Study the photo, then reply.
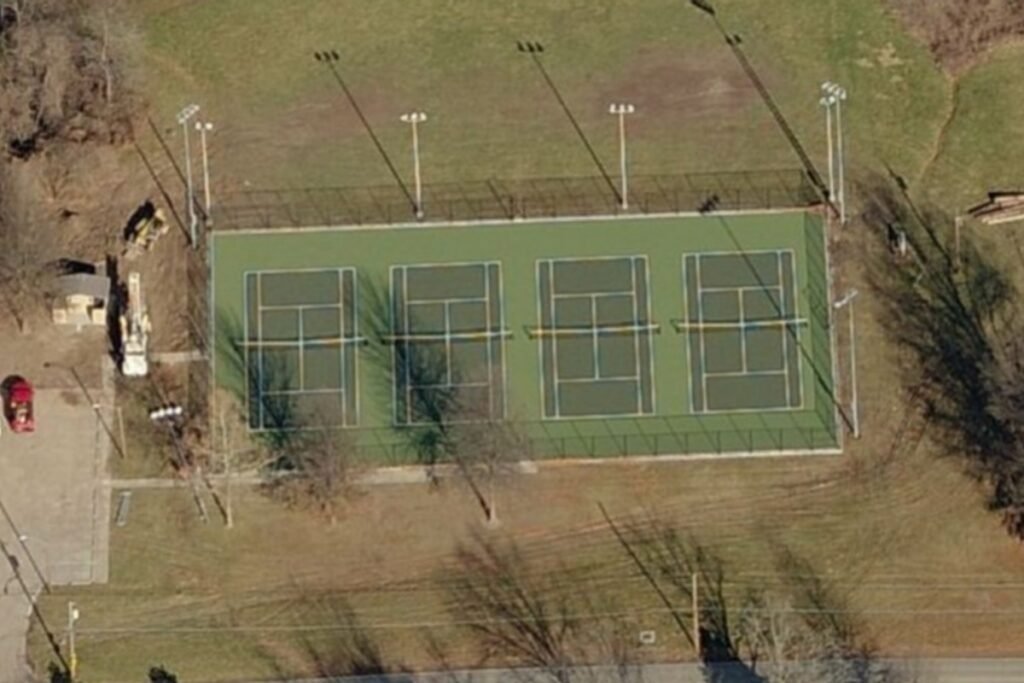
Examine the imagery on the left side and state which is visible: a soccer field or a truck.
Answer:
truck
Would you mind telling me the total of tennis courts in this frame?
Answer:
4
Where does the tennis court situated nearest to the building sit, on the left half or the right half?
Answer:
left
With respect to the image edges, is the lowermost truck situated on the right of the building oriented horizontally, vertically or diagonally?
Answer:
vertically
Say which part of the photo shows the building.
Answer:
left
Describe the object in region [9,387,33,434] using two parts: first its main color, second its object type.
red truck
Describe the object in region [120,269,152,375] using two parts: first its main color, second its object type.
white truck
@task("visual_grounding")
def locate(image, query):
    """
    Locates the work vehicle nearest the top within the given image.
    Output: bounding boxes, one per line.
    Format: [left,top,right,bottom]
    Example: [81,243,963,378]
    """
[130,212,171,252]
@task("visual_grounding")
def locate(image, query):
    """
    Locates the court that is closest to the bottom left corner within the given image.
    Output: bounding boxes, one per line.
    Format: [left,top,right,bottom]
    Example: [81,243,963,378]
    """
[236,268,366,431]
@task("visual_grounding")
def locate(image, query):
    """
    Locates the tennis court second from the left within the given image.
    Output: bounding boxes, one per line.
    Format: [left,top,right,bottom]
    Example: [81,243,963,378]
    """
[383,262,513,425]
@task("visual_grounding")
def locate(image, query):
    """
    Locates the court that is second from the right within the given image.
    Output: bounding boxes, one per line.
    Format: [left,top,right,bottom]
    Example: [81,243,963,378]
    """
[530,256,660,418]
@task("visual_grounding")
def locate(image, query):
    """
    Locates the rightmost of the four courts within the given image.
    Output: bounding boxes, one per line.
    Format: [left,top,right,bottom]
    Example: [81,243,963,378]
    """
[678,250,807,412]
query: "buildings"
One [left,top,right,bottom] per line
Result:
[52,273,108,335]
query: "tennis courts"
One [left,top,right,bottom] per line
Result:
[383,262,513,425]
[678,250,807,412]
[530,256,660,418]
[236,268,366,431]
